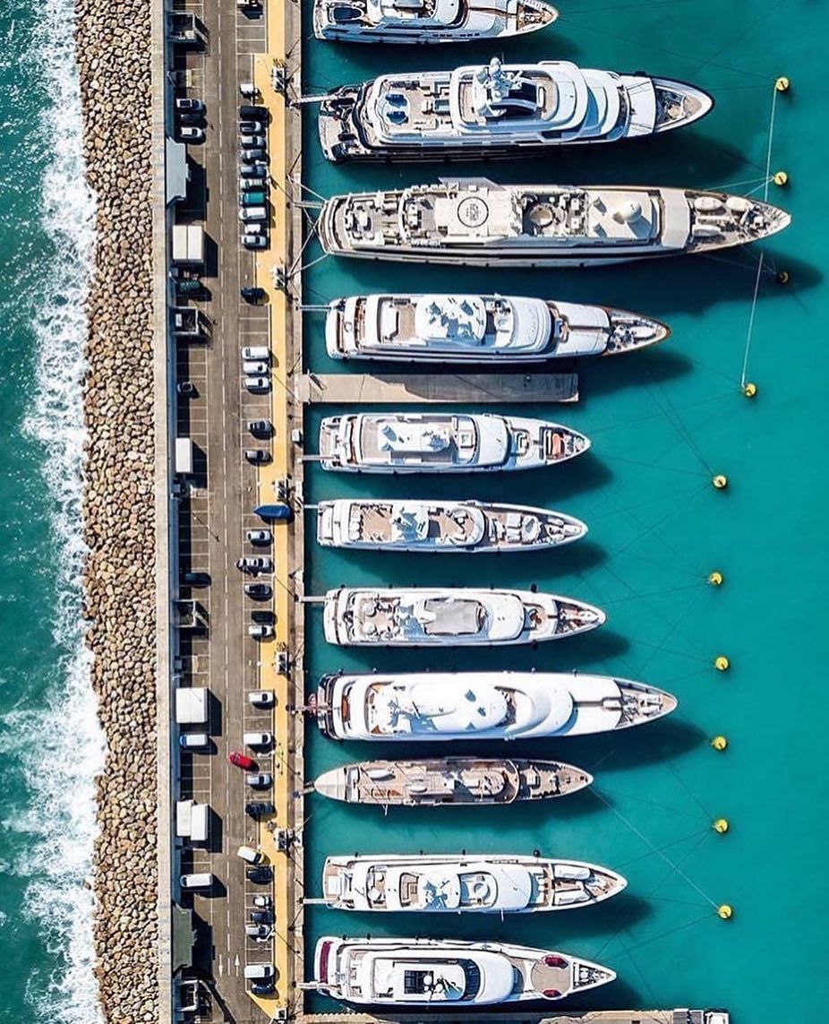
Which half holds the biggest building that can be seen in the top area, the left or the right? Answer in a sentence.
You can find the biggest building that can be seen in the top area on the left side of the picture.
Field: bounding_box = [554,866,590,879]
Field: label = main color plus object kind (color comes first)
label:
white boat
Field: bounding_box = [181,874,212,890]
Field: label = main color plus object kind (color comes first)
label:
white vehicle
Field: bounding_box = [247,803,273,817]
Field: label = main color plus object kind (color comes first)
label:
black car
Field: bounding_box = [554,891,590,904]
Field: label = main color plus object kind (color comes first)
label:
white boat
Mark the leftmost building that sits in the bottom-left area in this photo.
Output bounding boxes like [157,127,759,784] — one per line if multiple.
[173,902,197,972]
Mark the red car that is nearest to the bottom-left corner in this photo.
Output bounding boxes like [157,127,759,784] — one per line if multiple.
[228,752,254,771]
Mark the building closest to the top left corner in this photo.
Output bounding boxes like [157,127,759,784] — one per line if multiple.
[166,136,192,208]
